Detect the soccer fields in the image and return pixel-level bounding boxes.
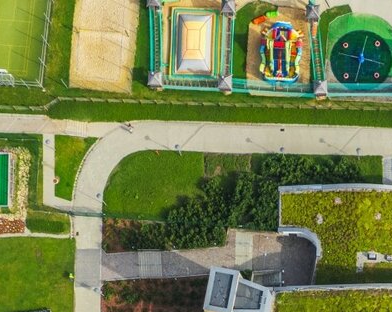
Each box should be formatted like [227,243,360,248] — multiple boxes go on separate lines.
[0,0,51,87]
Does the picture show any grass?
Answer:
Yes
